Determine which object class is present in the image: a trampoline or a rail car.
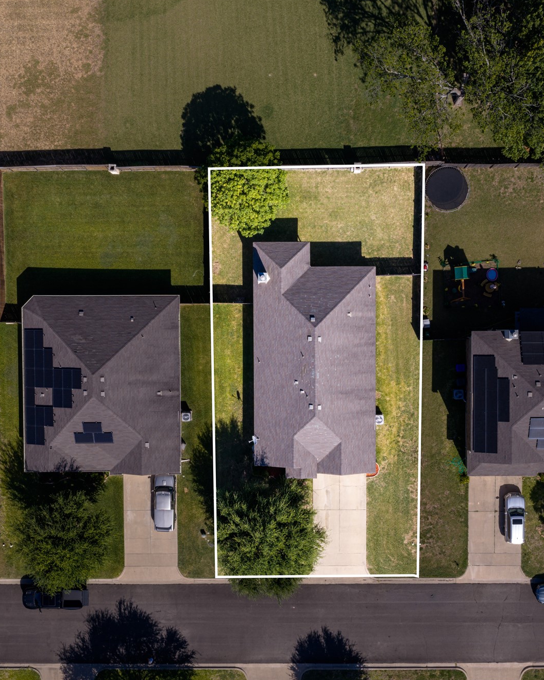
trampoline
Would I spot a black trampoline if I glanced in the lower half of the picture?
No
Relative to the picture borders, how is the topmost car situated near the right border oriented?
up and down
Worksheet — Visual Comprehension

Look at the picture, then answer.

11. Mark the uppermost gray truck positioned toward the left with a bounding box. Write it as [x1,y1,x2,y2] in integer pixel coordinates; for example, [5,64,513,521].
[153,475,177,533]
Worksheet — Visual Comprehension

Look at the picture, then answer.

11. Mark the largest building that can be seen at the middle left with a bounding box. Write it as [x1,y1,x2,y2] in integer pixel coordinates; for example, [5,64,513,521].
[22,294,182,476]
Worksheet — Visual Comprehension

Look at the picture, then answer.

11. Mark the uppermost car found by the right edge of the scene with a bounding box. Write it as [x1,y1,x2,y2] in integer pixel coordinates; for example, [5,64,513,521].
[501,490,527,541]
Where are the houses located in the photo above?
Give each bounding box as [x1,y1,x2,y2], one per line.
[464,308,544,476]
[250,241,376,479]
[22,294,182,476]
